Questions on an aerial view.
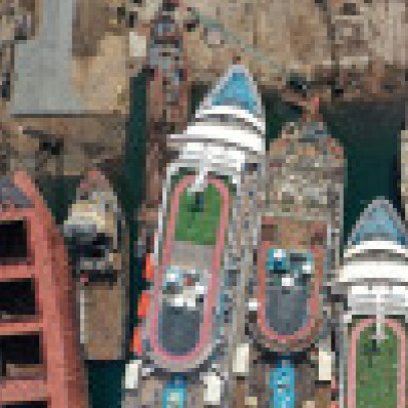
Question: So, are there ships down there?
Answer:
Yes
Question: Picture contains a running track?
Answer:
Yes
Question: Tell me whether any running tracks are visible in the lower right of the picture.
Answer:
Yes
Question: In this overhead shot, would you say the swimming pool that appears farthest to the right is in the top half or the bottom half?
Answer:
bottom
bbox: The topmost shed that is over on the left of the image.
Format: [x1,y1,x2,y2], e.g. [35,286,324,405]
[130,31,148,57]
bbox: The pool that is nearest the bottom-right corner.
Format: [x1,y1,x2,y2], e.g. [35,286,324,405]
[269,356,295,408]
